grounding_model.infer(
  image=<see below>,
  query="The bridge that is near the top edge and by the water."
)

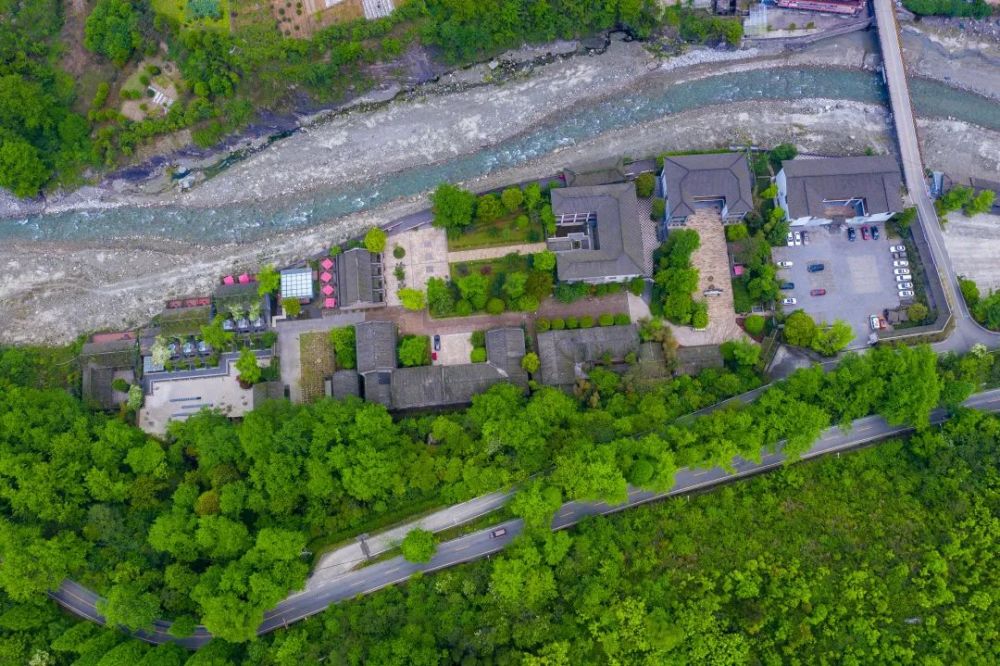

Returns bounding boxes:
[870,0,932,193]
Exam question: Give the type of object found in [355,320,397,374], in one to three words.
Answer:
house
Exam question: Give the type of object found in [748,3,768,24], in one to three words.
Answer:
greenhouse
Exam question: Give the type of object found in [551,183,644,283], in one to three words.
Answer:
house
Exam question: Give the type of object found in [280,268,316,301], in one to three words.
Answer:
building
